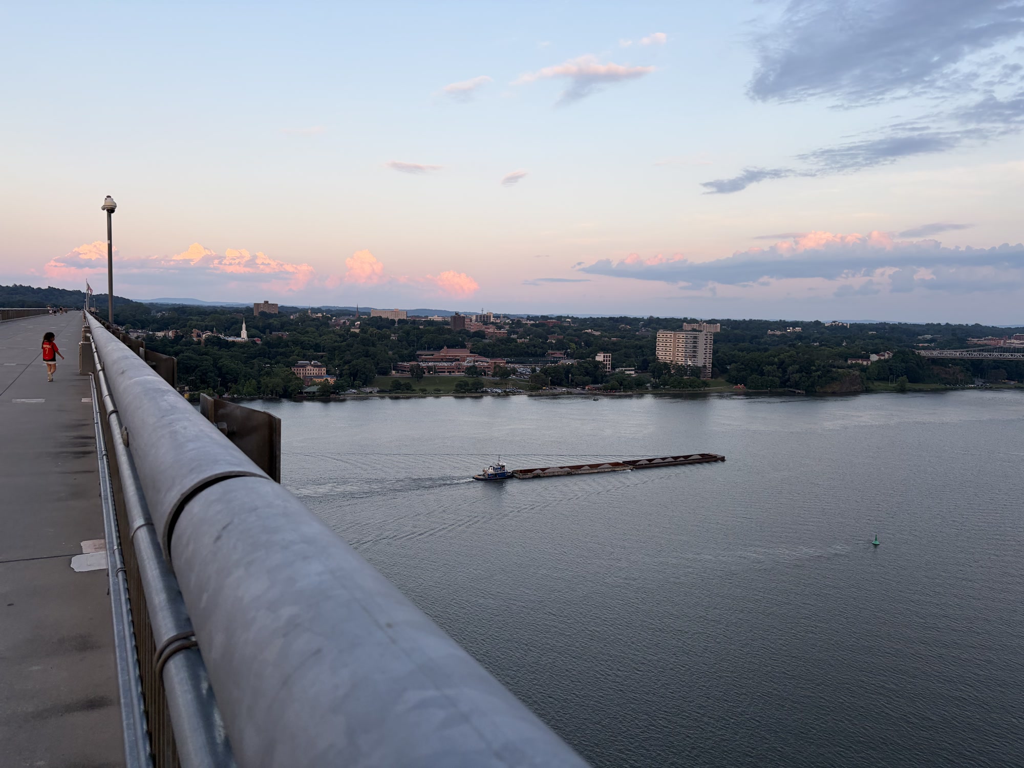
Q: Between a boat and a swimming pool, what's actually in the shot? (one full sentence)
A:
It is a boat that can be seen here.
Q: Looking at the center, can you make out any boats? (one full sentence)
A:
Yes, a boat is visible at the center.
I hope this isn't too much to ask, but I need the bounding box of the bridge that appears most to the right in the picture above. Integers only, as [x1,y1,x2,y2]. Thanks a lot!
[912,341,1024,379]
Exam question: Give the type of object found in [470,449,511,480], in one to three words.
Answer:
boat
